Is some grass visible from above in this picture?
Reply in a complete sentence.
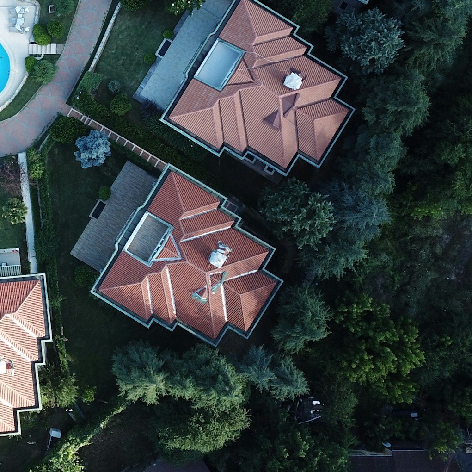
Yes, there is grass in the image.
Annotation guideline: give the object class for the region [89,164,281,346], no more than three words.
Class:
house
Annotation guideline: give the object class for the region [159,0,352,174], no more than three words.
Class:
house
